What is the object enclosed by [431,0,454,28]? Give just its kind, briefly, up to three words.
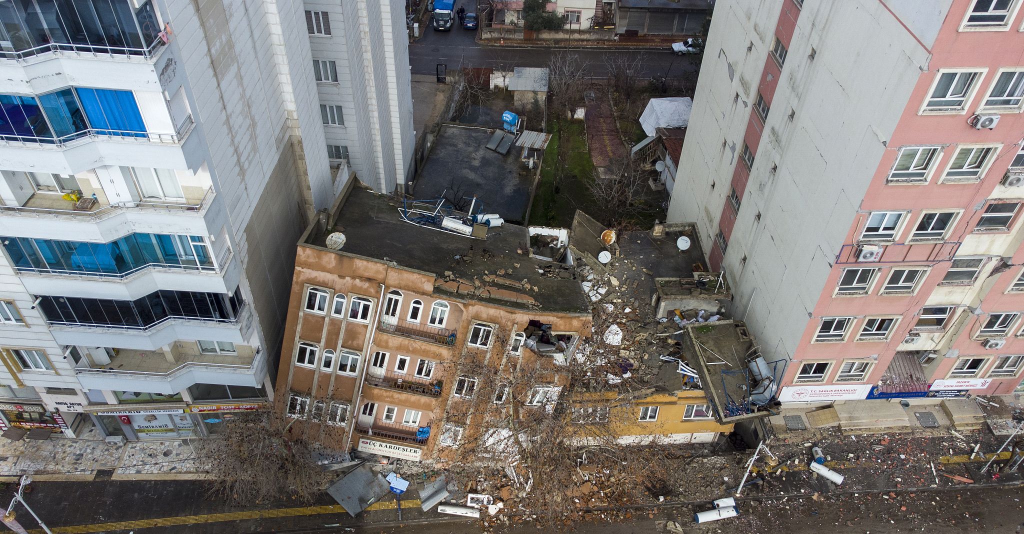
truck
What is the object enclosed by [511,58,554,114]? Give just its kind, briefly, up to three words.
shed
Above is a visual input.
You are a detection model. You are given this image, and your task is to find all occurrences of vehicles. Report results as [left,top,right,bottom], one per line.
[431,0,454,28]
[670,36,704,54]
[461,7,480,27]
